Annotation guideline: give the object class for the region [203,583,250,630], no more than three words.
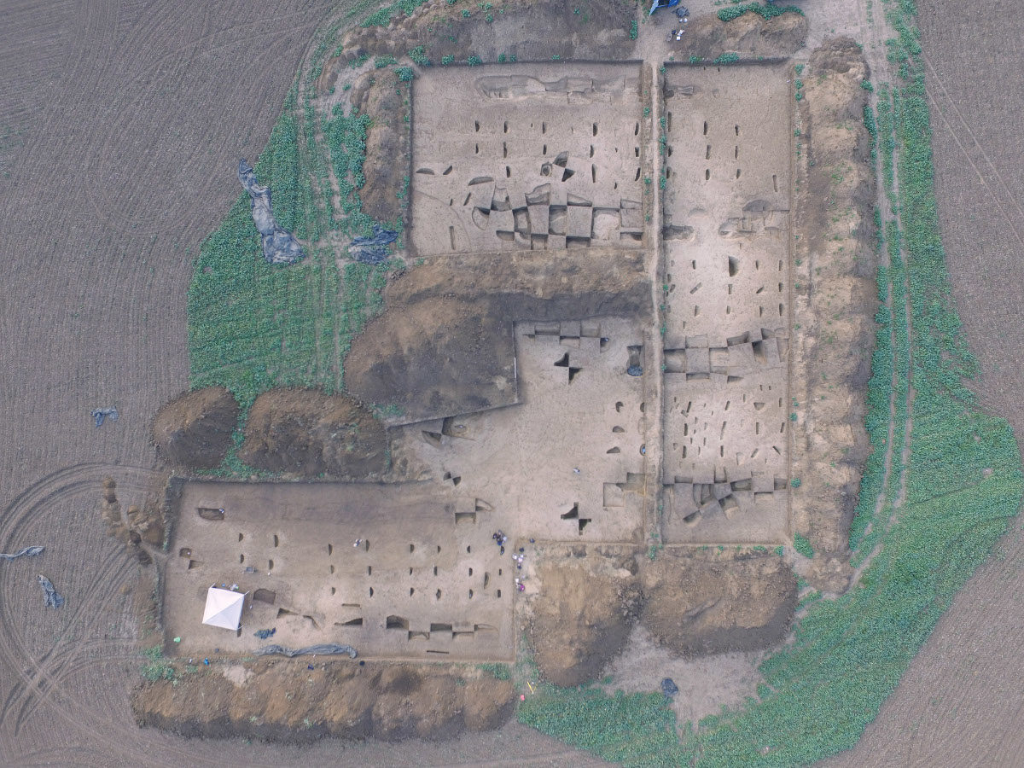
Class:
tent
